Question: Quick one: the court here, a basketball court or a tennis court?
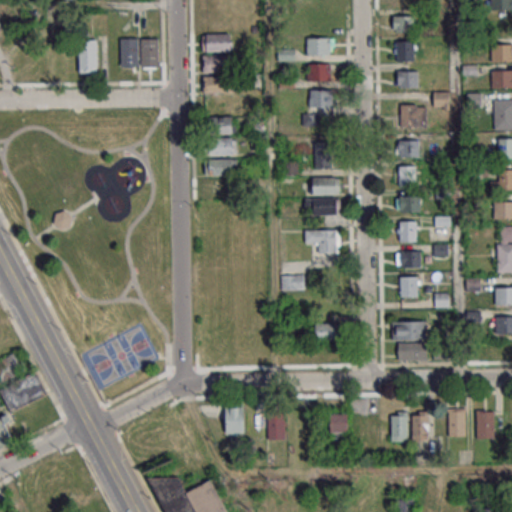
basketball court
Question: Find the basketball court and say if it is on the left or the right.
left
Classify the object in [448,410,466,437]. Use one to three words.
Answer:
house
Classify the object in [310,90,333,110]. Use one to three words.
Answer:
house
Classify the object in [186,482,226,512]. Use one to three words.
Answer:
building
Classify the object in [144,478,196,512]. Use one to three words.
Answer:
building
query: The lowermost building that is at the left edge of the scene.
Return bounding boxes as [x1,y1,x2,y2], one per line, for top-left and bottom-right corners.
[1,376,46,412]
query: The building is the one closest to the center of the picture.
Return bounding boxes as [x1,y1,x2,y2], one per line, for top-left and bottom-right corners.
[282,275,306,292]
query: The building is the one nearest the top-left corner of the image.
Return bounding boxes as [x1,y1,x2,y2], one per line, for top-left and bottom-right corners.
[78,39,98,74]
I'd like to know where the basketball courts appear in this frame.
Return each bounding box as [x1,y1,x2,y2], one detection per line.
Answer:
[83,324,159,390]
